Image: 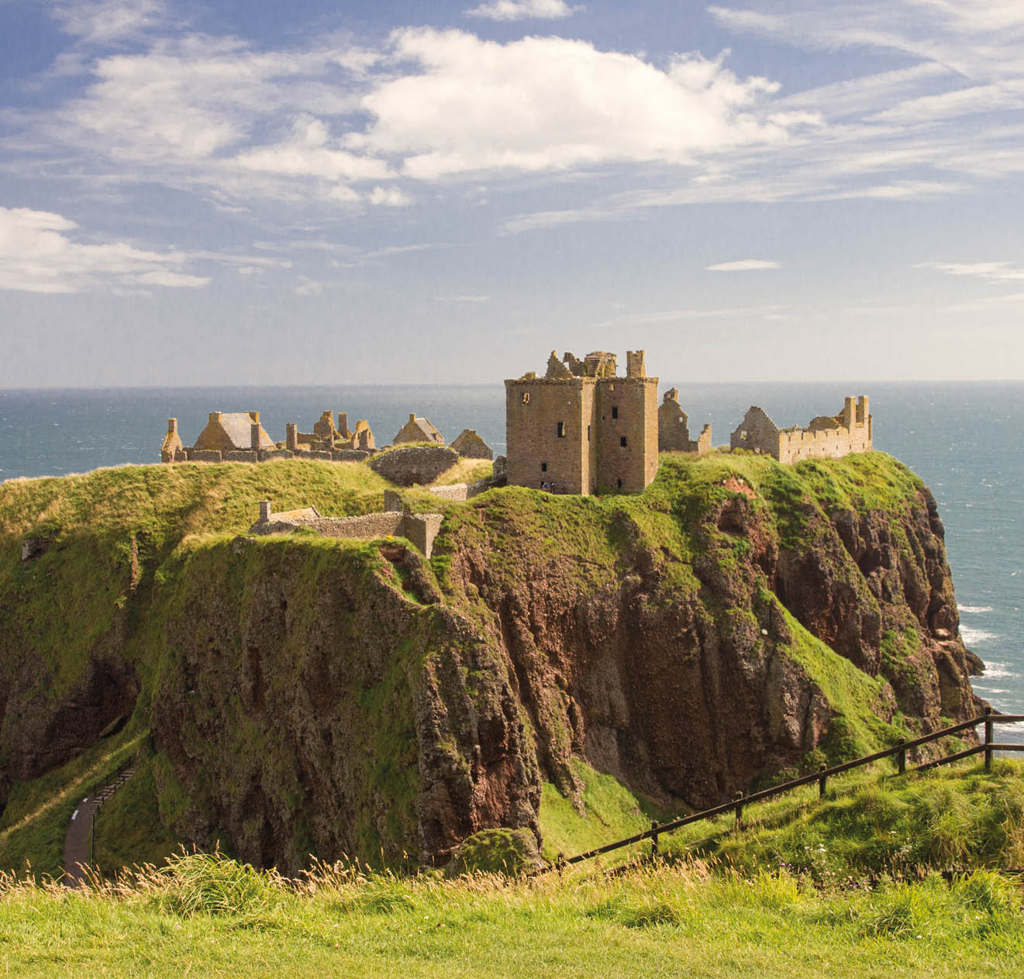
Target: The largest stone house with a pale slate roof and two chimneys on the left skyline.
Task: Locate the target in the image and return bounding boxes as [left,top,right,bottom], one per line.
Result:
[191,408,283,465]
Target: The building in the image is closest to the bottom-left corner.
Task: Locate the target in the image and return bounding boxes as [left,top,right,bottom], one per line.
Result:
[249,500,324,540]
